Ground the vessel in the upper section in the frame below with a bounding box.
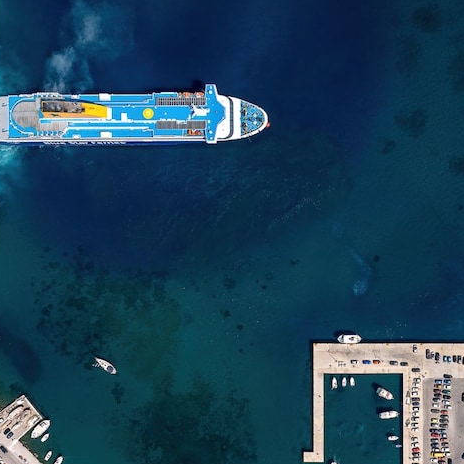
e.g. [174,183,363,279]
[0,83,272,146]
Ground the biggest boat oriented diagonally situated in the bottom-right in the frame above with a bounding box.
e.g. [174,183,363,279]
[376,387,392,400]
